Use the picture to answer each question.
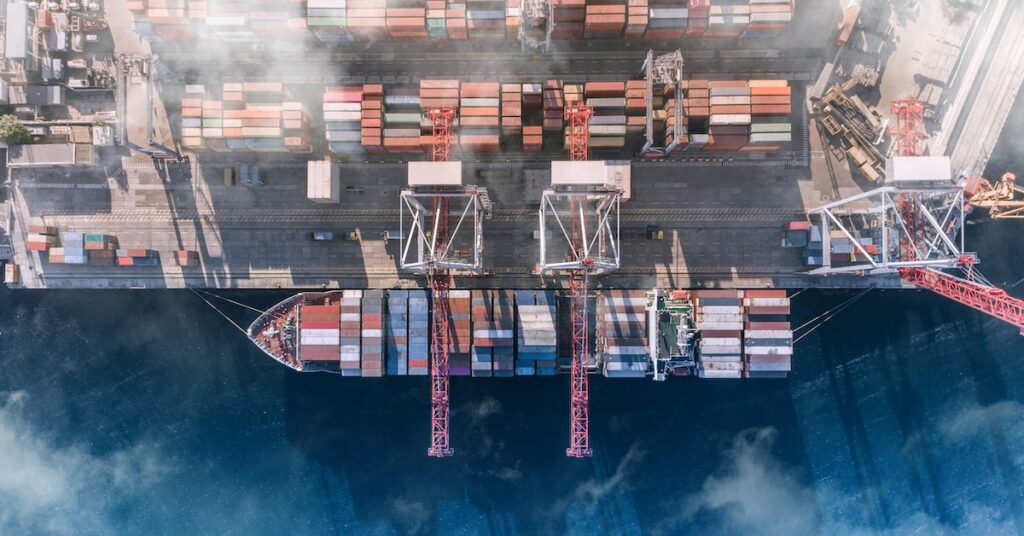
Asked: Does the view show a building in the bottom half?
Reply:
No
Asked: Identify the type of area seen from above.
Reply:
port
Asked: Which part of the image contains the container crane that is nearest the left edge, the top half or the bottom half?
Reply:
top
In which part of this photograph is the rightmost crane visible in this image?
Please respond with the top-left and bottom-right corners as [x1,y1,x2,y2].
[961,172,1024,210]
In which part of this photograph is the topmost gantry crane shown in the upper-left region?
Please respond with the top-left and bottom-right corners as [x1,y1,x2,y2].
[117,53,184,156]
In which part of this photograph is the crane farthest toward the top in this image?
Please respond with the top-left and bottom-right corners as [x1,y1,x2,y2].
[515,0,554,56]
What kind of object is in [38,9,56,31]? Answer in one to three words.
building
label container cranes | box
[117,53,184,156]
[525,101,628,457]
[797,101,1024,332]
[399,101,495,457]
[515,0,554,56]
[634,49,683,156]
